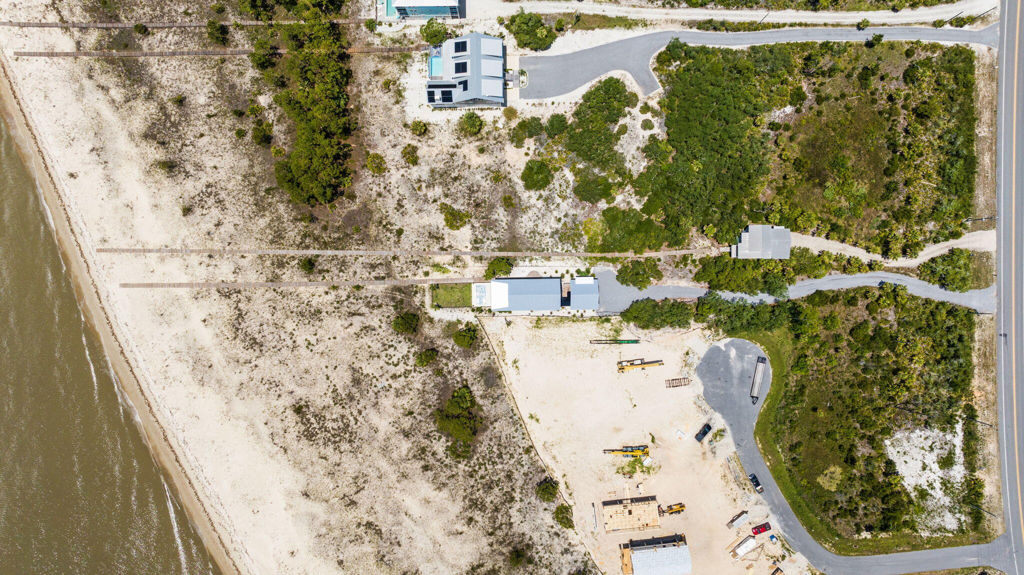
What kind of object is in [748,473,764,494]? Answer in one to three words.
vehicle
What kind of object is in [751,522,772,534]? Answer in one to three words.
vehicle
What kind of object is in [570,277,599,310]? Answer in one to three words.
building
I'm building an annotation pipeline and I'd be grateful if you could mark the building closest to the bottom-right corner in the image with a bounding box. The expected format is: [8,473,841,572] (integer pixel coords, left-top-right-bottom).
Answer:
[616,537,693,575]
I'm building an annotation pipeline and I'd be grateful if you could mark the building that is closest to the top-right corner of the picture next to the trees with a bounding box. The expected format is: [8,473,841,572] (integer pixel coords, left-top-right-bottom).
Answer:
[719,225,792,259]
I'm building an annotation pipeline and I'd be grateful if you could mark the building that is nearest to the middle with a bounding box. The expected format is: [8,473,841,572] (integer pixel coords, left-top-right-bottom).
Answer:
[472,280,570,311]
